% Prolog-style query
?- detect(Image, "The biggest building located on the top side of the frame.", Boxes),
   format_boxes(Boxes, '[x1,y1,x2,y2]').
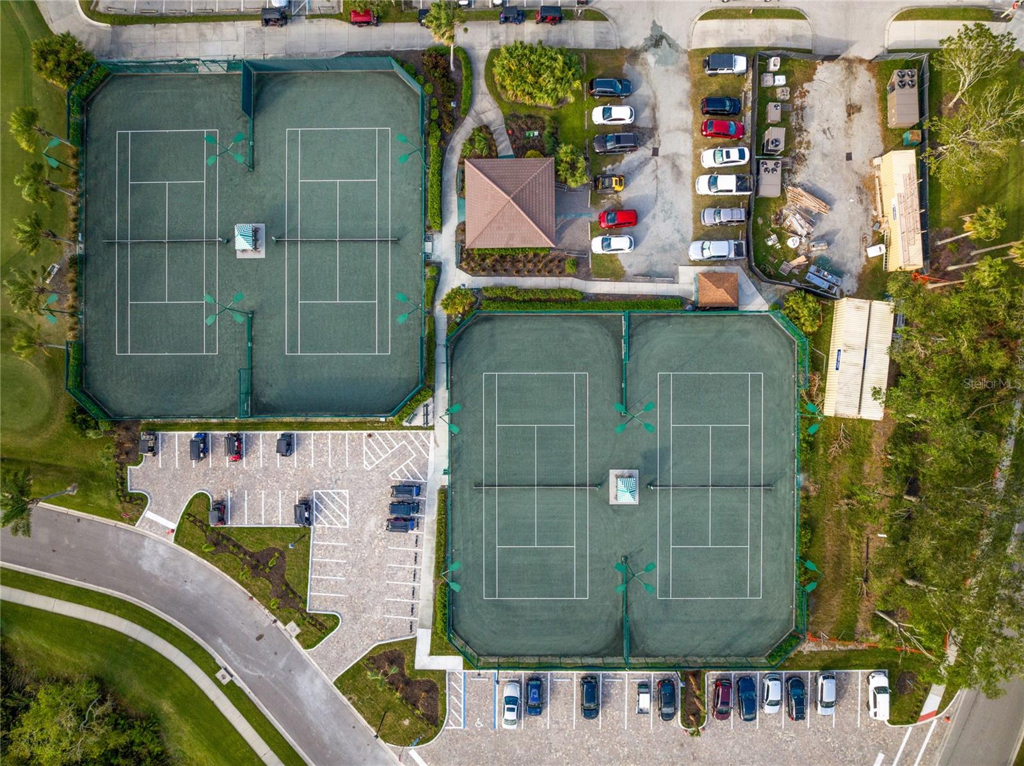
[464,157,557,252]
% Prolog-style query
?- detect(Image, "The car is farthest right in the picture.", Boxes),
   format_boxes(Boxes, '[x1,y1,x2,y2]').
[865,670,892,724]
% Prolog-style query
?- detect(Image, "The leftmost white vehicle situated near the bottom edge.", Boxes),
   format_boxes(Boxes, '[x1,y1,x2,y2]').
[502,679,522,728]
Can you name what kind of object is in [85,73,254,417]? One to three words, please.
tennis court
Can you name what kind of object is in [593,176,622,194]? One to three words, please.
work vehicle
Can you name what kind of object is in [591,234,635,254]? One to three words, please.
car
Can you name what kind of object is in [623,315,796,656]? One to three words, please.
tennis court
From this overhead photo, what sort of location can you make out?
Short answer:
sports ground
